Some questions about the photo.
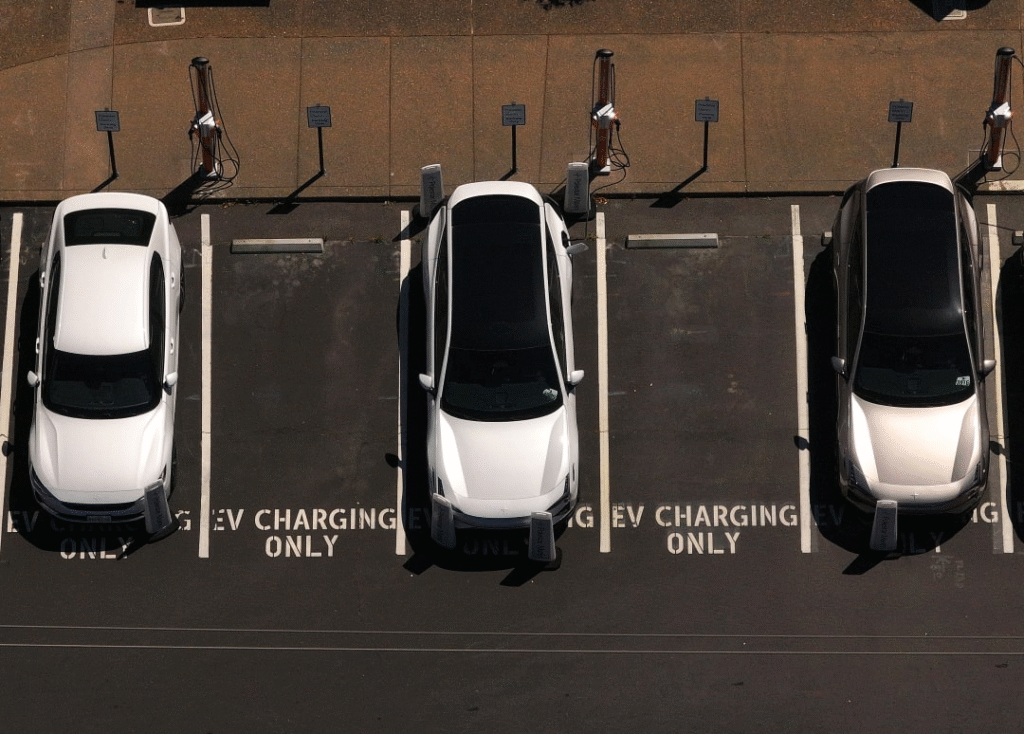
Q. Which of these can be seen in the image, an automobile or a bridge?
automobile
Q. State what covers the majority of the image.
paved ground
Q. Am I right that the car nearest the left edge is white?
Yes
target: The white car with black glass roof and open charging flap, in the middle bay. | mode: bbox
[416,181,588,538]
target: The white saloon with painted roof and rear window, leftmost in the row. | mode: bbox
[25,193,181,523]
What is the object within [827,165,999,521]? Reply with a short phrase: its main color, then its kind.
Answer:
black car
